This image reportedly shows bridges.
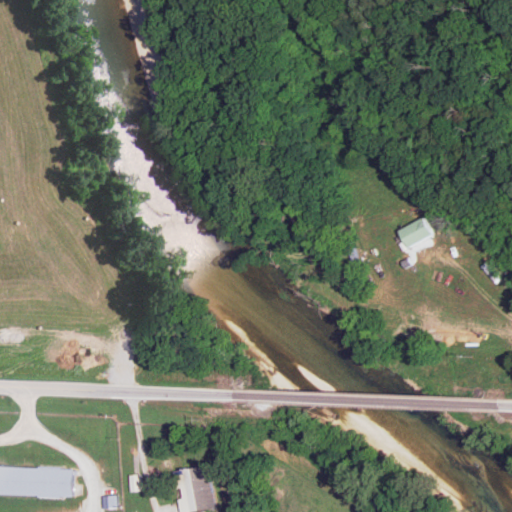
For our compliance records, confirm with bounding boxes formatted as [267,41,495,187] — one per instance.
[232,388,498,413]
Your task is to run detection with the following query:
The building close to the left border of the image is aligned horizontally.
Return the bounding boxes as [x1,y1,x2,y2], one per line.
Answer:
[0,464,75,498]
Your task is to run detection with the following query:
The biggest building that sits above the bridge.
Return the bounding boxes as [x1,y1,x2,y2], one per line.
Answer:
[396,218,435,256]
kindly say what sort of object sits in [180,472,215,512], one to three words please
house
